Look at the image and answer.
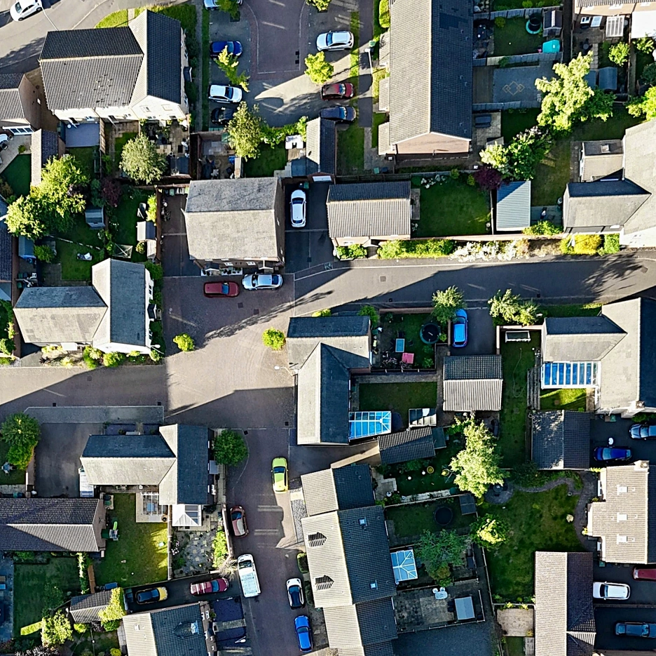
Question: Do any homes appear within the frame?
Yes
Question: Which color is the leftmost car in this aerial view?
white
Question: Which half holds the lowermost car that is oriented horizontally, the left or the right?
right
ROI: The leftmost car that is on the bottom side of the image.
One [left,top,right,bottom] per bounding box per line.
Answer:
[134,586,165,603]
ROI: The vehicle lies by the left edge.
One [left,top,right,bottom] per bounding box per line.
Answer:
[12,0,41,21]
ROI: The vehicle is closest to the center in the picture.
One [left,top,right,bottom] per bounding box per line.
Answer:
[243,272,282,291]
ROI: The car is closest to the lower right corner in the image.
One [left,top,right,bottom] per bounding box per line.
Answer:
[615,619,656,639]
